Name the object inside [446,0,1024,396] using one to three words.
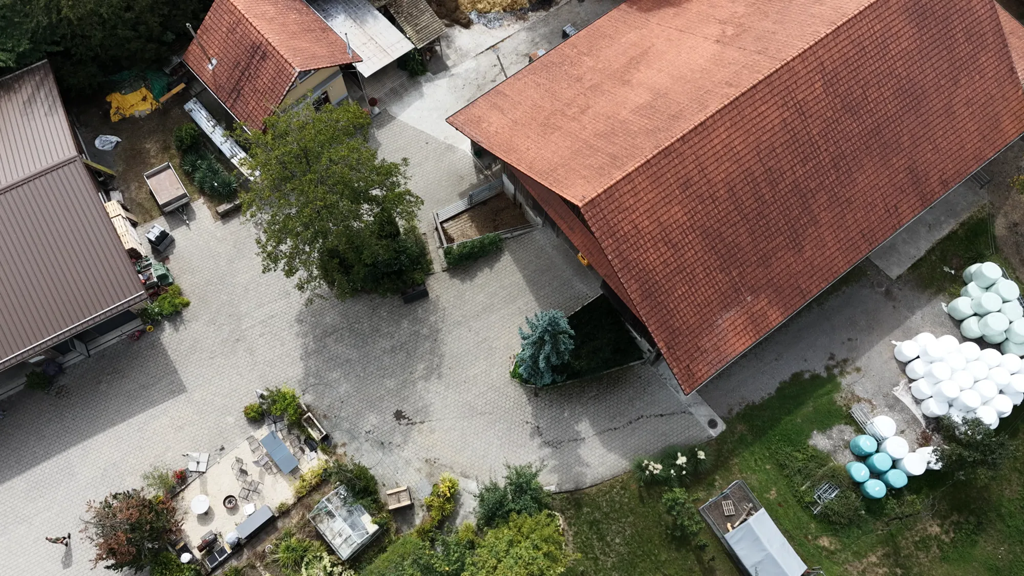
barn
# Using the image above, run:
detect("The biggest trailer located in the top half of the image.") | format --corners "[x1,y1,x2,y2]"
[151,159,197,229]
